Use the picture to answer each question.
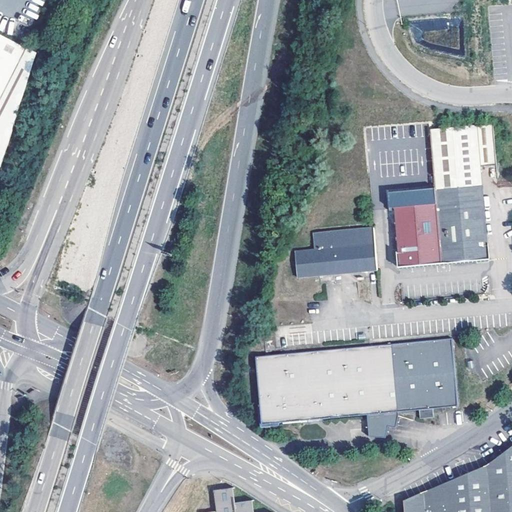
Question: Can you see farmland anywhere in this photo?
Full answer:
No, the scene doesn't show any farmland.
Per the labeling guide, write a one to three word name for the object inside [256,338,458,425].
building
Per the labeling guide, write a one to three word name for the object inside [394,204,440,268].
building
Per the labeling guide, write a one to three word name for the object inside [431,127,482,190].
shed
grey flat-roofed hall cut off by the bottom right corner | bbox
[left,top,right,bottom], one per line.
[403,444,512,512]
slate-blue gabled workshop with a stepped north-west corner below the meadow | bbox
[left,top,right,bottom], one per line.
[295,227,378,278]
